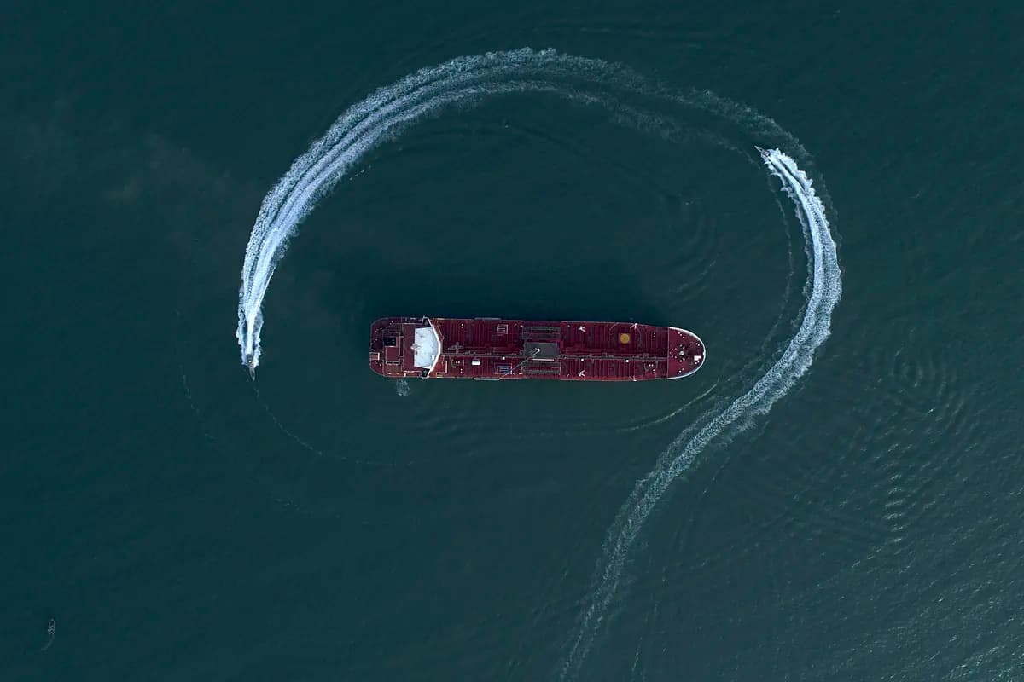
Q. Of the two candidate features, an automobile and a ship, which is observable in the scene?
ship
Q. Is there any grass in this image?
No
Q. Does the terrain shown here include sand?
No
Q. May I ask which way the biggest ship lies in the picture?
from left to right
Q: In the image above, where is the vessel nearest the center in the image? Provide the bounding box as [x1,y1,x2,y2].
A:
[369,316,705,381]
